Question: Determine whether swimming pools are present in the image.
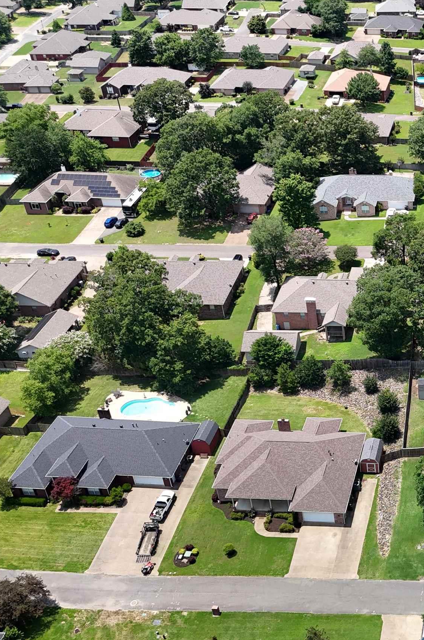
Yes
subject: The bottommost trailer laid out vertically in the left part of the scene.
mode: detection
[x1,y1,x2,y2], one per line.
[135,513,157,563]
